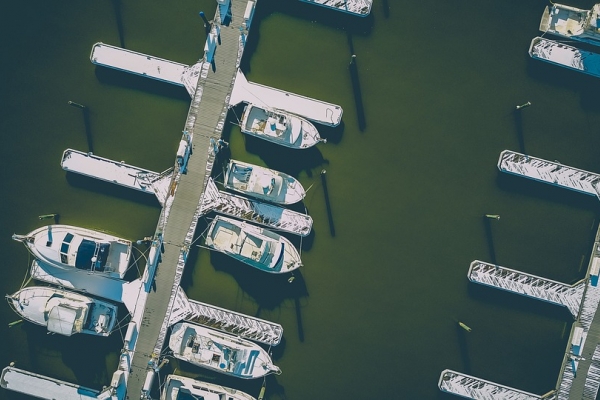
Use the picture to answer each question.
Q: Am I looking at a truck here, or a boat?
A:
boat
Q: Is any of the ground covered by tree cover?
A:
No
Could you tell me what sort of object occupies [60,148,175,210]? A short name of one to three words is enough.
pier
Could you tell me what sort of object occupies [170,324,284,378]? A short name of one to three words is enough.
boat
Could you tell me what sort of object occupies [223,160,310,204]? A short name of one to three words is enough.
boat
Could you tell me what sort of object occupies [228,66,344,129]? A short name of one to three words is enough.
pier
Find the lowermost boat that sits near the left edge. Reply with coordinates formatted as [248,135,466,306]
[2,285,120,337]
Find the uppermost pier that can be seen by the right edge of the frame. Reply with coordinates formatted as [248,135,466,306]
[526,36,600,78]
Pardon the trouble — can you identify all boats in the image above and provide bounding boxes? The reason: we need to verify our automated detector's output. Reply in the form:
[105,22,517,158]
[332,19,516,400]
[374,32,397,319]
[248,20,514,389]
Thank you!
[240,104,327,150]
[163,369,248,400]
[2,285,120,337]
[170,324,284,378]
[223,160,310,204]
[540,0,600,49]
[11,227,135,282]
[199,214,305,271]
